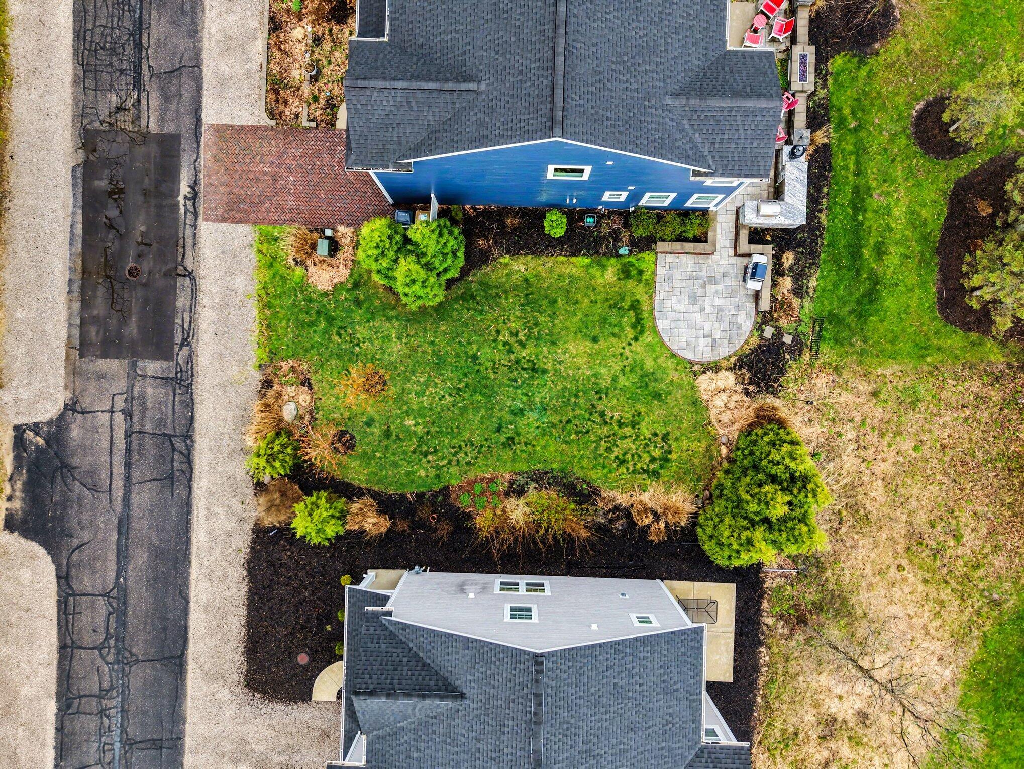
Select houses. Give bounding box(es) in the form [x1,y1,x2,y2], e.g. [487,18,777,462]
[345,0,783,214]
[326,570,753,769]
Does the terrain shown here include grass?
Yes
